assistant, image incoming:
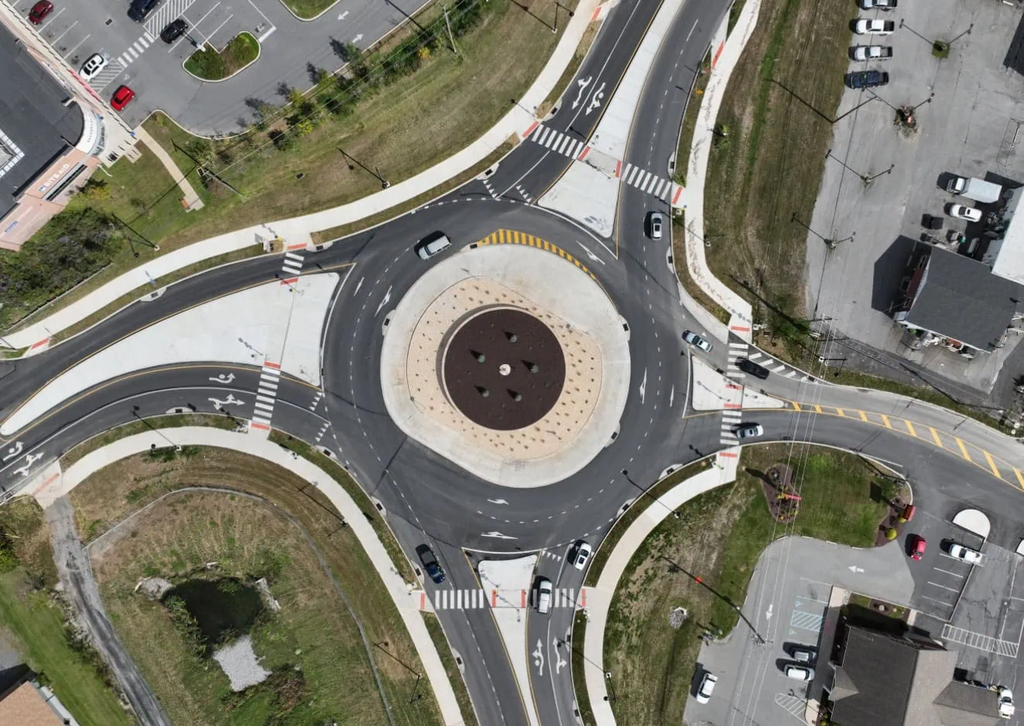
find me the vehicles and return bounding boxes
[111,83,137,111]
[731,423,763,439]
[857,0,898,12]
[785,647,818,664]
[682,329,715,354]
[948,175,1005,201]
[847,69,889,89]
[573,540,592,572]
[28,0,56,27]
[997,684,1016,720]
[736,357,771,381]
[695,670,718,705]
[947,544,986,566]
[782,664,814,682]
[649,211,664,241]
[537,579,553,614]
[852,44,893,62]
[855,17,895,35]
[948,203,982,221]
[161,16,190,45]
[128,0,160,25]
[79,51,109,82]
[415,544,445,583]
[416,232,453,259]
[907,533,927,562]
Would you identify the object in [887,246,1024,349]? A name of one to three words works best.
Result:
building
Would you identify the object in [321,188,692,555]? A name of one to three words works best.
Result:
roundabout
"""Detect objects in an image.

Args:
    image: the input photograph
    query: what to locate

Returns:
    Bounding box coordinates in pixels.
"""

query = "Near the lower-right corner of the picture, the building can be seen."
[814,623,1004,726]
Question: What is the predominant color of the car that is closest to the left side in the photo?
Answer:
red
